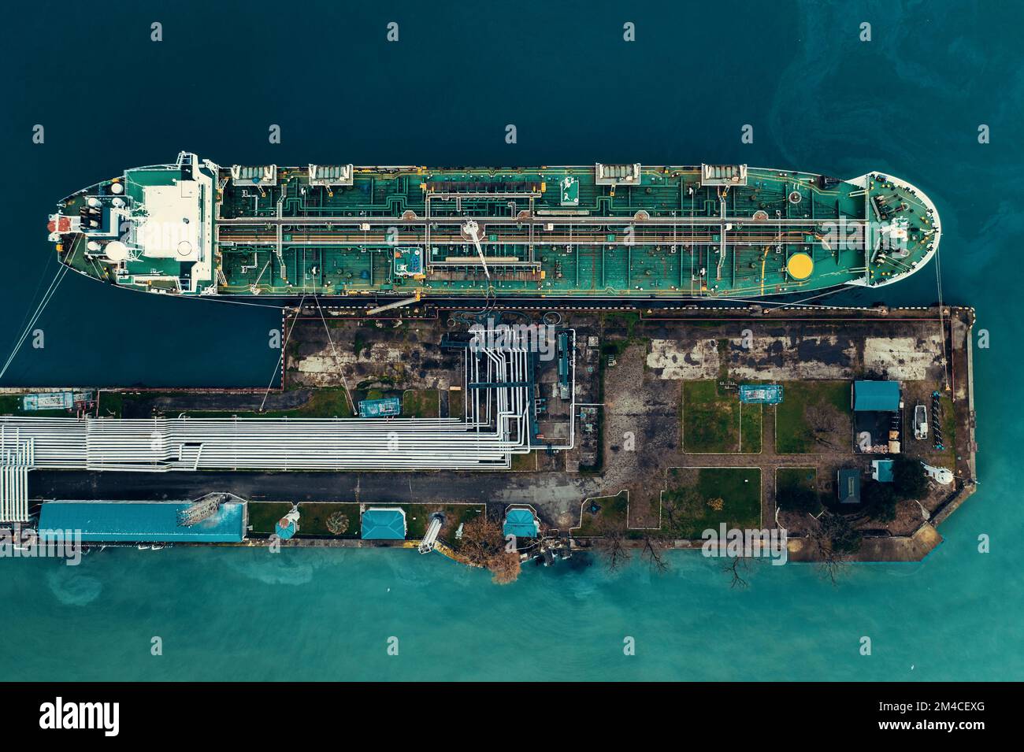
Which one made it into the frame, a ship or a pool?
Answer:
ship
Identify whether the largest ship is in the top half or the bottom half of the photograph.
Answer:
top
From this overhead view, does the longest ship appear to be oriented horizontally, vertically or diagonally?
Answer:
horizontally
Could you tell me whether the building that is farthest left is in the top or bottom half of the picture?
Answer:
bottom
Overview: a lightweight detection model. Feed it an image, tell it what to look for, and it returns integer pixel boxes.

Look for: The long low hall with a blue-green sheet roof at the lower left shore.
[0,492,248,547]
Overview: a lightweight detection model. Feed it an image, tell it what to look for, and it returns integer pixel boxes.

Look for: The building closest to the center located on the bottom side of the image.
[504,508,540,537]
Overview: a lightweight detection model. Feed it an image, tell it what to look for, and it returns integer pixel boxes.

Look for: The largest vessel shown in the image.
[48,151,940,301]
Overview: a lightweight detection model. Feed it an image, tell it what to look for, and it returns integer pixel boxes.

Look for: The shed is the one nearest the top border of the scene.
[849,381,906,411]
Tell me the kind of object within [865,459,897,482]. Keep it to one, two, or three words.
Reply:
building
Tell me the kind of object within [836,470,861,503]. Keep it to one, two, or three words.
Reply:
house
